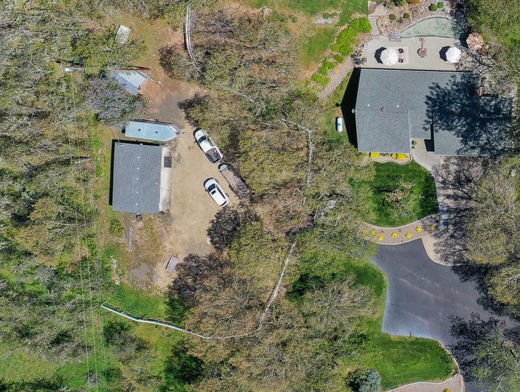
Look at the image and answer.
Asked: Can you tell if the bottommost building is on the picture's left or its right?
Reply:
left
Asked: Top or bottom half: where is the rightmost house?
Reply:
top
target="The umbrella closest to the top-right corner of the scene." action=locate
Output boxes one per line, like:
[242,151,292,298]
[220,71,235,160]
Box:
[446,48,461,63]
